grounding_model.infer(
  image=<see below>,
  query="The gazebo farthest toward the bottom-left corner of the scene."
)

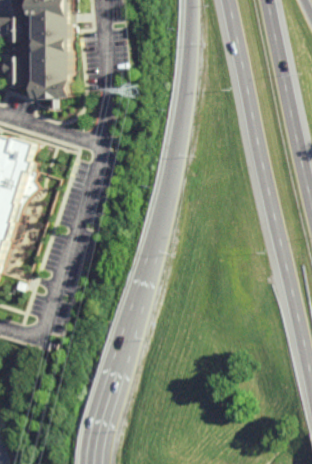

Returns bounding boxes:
[16,280,30,292]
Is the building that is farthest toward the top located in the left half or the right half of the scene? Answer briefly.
left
